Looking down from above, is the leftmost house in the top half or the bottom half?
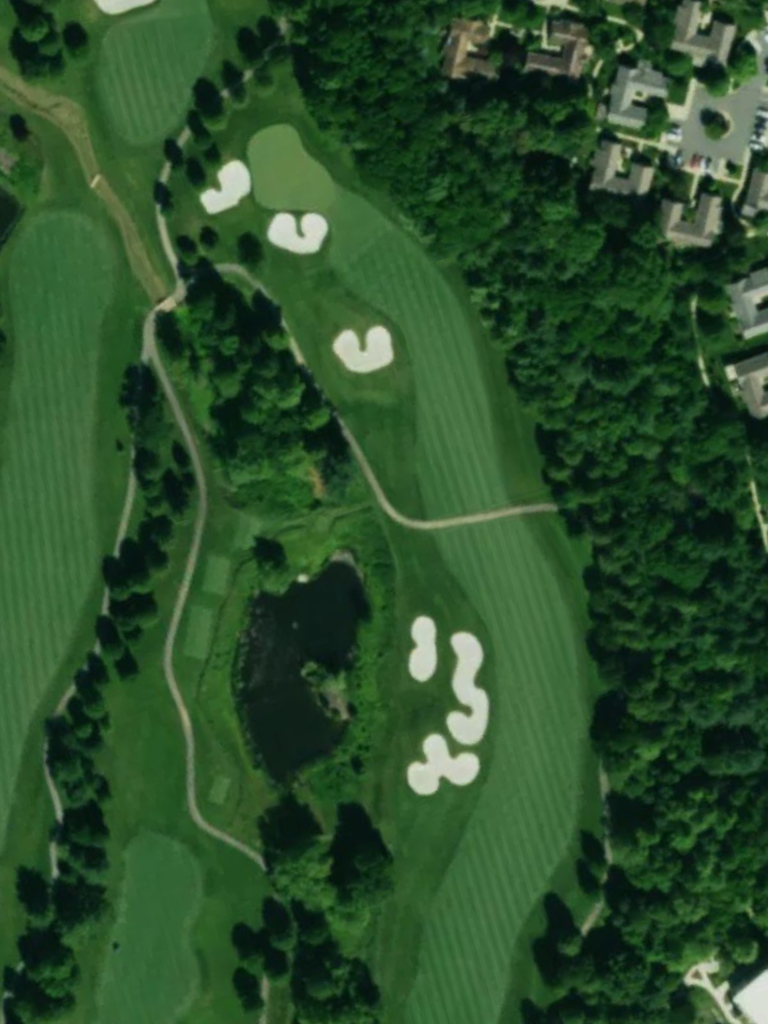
top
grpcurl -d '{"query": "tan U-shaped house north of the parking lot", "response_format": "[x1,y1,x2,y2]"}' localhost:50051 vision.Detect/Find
[676,0,735,67]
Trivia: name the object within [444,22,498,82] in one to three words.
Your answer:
house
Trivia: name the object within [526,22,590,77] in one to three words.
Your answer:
house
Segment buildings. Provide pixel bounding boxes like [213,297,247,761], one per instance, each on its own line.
[444,22,498,82]
[609,59,670,127]
[676,0,735,67]
[593,140,654,197]
[730,271,768,336]
[659,191,721,245]
[733,965,768,1024]
[526,22,590,77]
[746,167,768,214]
[738,356,768,416]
